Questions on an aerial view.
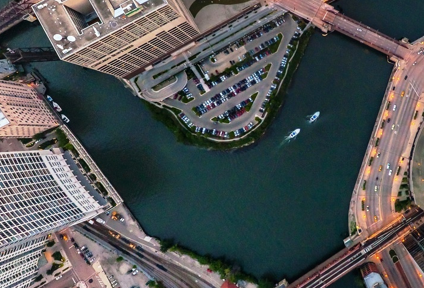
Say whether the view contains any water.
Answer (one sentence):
Yes, there is water in the image.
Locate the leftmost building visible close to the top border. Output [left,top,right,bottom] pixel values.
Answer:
[31,0,200,76]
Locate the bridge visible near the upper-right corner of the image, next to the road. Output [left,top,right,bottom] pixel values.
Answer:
[315,0,415,66]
